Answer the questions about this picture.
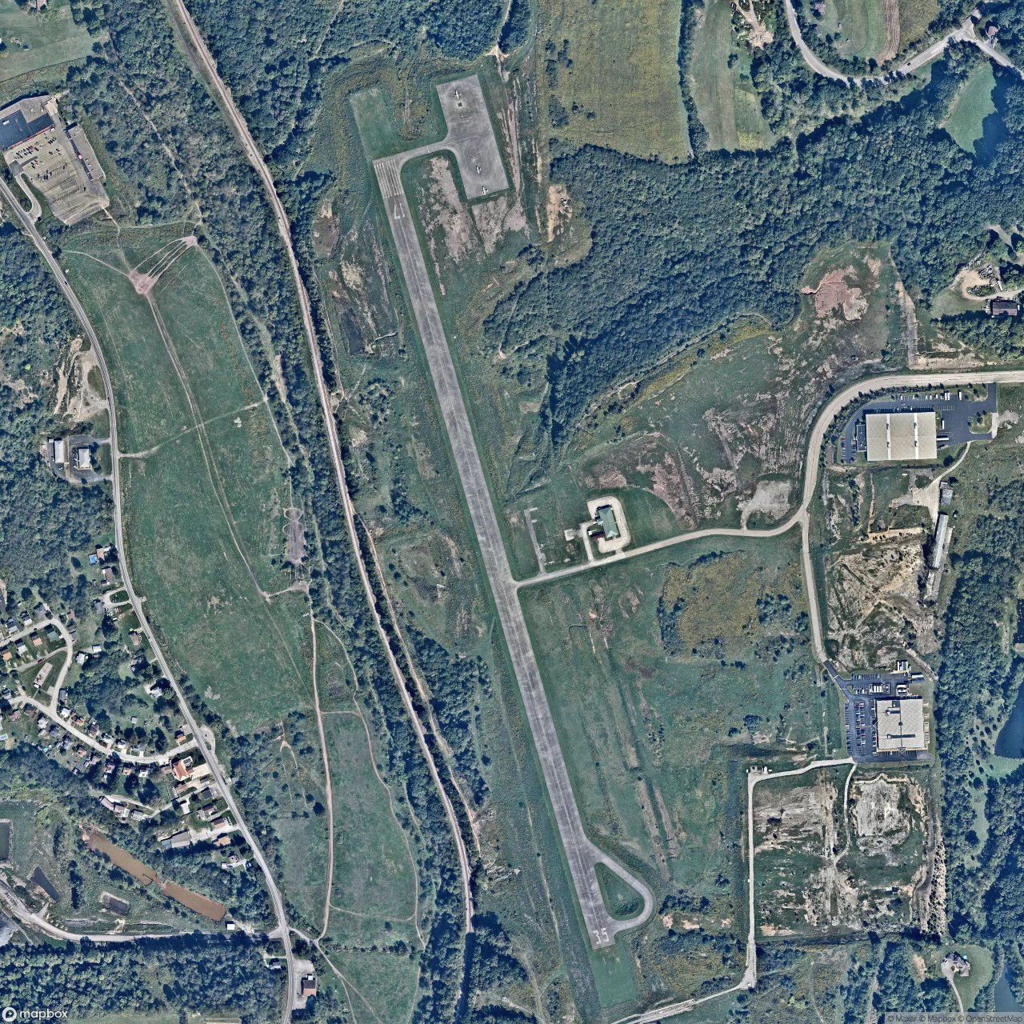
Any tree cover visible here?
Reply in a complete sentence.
Yes, tree cover shows up in the scene.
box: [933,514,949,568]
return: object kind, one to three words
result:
building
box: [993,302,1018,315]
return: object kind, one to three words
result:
building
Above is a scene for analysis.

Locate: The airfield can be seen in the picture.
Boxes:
[373,75,653,950]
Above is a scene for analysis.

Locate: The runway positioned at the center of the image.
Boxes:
[373,154,615,950]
